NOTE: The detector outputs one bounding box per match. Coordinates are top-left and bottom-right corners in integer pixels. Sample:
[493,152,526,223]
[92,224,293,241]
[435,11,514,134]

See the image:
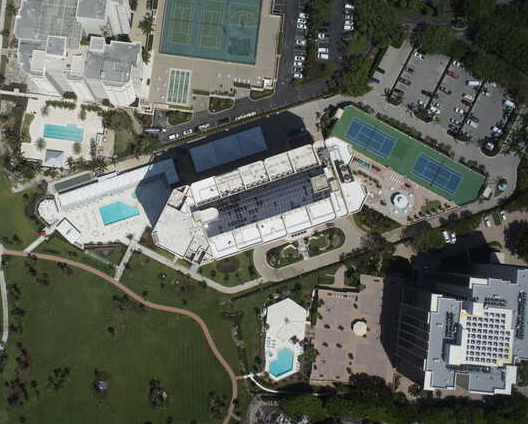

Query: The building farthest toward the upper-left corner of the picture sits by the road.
[14,0,142,104]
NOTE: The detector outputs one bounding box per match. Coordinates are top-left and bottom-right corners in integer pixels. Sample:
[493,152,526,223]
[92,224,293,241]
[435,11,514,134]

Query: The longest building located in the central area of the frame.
[152,137,367,265]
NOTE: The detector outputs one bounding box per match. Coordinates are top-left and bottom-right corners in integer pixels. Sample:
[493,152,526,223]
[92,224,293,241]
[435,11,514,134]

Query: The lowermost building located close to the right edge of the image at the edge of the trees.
[395,259,528,393]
